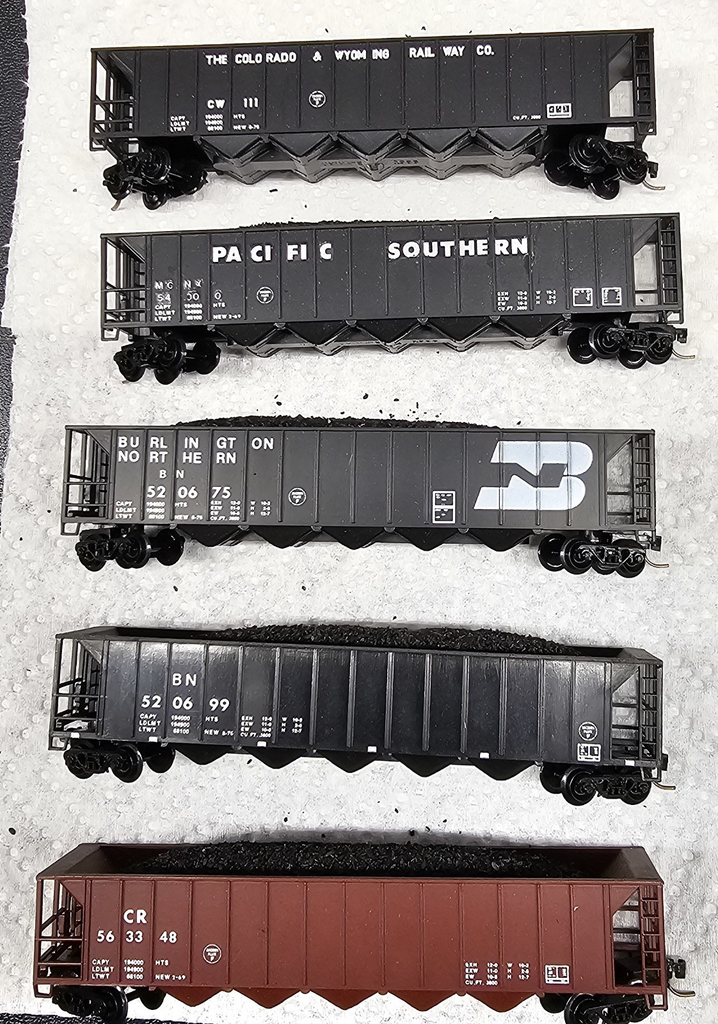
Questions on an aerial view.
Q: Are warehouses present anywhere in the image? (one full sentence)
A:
No, no warehouse can be seen from above.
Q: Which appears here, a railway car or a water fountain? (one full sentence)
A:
I can see a railway car in this picture.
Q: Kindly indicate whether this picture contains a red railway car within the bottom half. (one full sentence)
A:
Yes, a red railway car is visible within the bottom half.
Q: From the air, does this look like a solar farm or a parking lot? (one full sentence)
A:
This looks like a parking lot.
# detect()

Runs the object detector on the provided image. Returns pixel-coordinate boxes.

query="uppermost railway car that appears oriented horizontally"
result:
[90,30,669,211]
